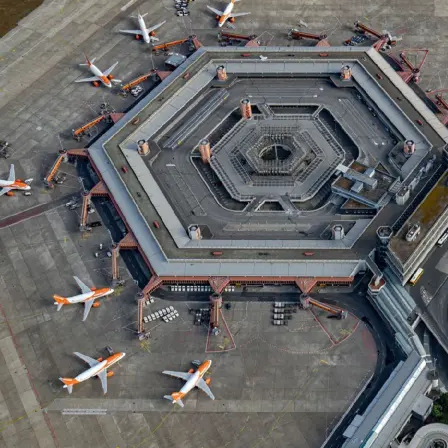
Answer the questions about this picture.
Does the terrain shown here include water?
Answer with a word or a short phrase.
No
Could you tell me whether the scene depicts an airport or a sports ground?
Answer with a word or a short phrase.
airport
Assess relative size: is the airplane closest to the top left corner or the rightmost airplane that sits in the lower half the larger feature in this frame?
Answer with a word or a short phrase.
the rightmost airplane that sits in the lower half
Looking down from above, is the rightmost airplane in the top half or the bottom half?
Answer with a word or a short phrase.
top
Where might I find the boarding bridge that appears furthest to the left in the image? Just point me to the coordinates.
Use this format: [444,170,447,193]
[44,147,91,184]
